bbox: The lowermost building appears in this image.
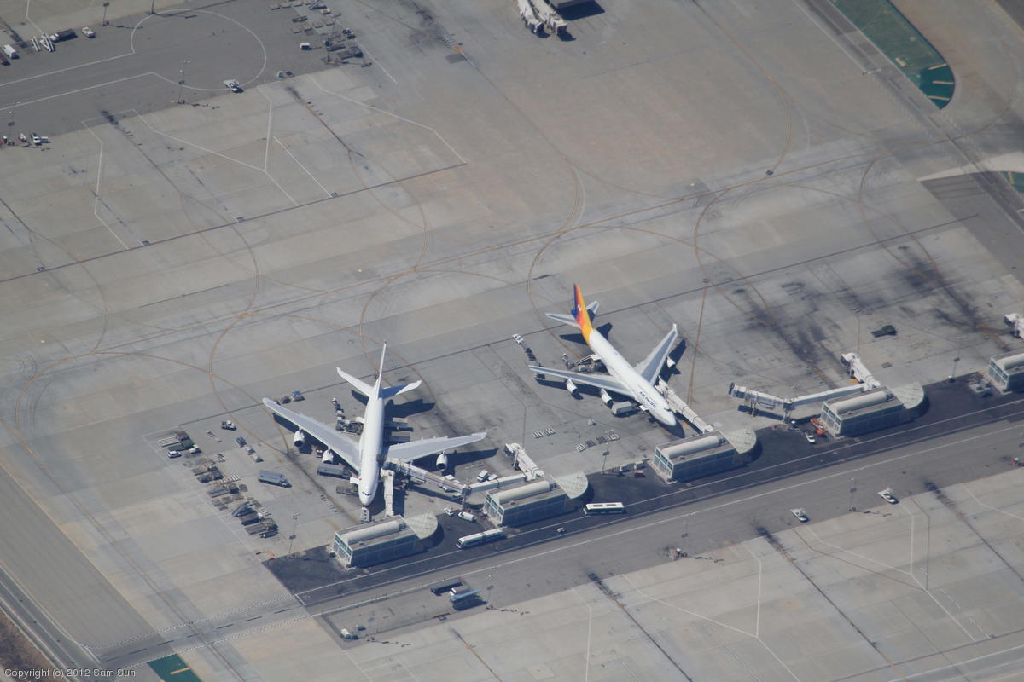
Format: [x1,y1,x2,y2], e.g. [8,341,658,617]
[327,509,434,568]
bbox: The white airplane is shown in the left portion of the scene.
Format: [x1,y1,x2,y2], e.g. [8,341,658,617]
[263,343,488,509]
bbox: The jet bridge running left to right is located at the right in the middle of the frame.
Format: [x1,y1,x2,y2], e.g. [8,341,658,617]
[724,384,873,423]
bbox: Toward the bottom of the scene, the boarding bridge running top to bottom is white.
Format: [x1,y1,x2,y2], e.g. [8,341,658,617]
[378,467,402,518]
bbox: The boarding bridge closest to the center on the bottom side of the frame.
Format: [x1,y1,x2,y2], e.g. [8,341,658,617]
[500,444,541,484]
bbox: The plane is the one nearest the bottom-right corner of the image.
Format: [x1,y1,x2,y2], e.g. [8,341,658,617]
[523,283,681,426]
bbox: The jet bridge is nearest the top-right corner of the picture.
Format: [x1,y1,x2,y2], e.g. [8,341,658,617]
[998,314,1024,348]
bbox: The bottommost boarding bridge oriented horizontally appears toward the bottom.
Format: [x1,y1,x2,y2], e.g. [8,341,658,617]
[377,456,544,510]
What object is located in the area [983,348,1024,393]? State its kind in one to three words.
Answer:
building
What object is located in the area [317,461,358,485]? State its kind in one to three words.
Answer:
truck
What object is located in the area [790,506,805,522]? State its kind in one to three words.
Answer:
vehicle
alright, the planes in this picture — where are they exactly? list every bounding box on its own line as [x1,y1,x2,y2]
[523,283,681,426]
[263,343,488,509]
